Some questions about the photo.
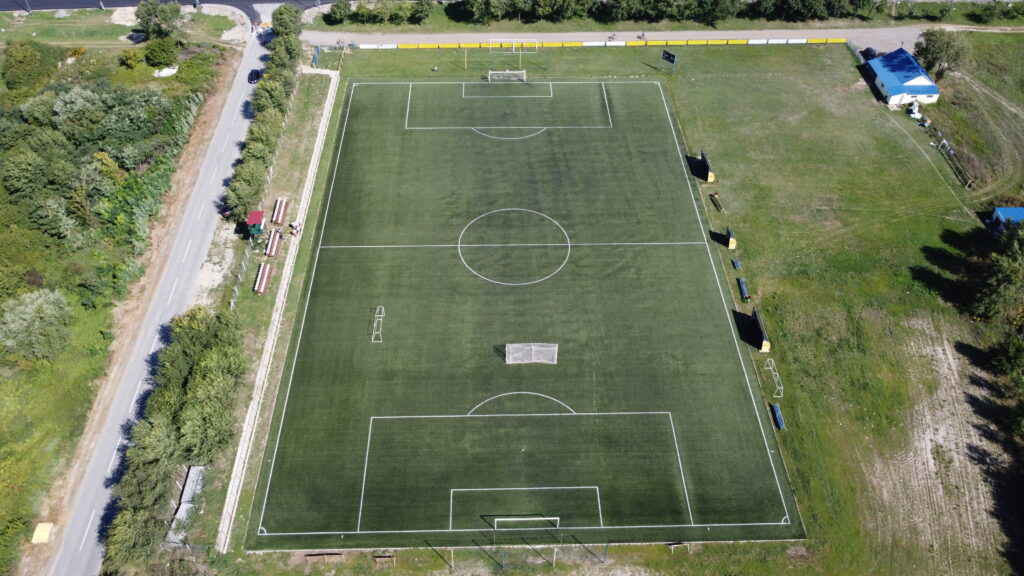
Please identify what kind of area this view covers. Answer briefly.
sports ground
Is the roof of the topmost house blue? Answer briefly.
Yes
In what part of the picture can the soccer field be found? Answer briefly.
center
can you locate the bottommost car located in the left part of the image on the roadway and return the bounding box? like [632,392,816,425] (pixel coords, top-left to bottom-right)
[249,68,263,81]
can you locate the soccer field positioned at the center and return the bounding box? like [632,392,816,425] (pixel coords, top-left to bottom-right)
[241,76,809,554]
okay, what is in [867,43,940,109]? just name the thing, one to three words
house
